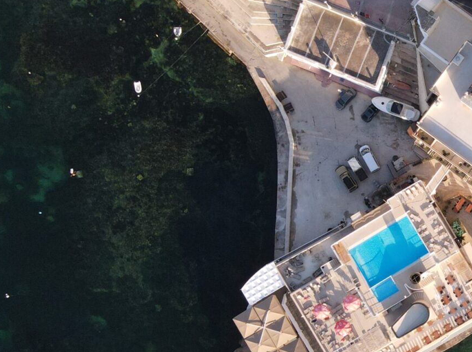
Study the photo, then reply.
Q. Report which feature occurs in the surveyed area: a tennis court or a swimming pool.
swimming pool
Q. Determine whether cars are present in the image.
Yes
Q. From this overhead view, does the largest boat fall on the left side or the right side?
right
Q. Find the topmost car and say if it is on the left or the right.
right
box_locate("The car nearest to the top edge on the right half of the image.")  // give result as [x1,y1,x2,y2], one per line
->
[334,87,359,111]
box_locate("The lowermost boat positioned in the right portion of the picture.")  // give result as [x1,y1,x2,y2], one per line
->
[372,99,422,124]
